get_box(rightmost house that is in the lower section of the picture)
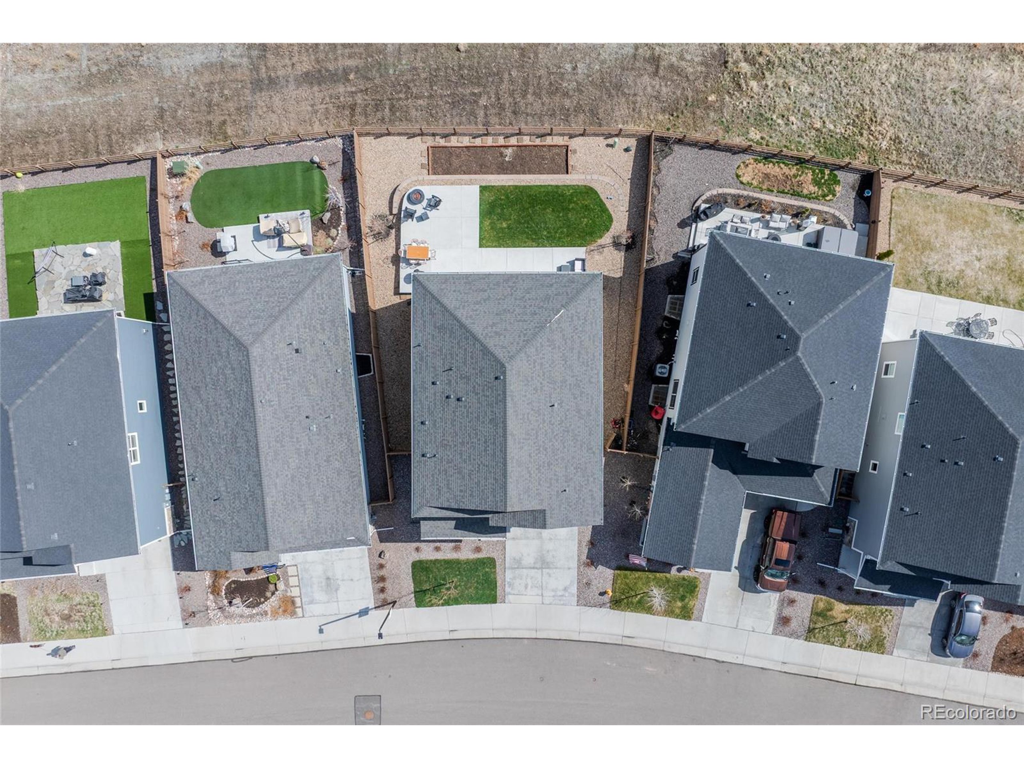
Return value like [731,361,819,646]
[817,331,1024,605]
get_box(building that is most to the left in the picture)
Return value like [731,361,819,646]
[0,308,186,581]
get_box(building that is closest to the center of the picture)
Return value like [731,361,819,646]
[410,272,605,540]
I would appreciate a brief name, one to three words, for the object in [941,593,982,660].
car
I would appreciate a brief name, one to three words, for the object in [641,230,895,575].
house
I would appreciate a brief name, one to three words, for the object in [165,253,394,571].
house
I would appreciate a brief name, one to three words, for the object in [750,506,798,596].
truck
